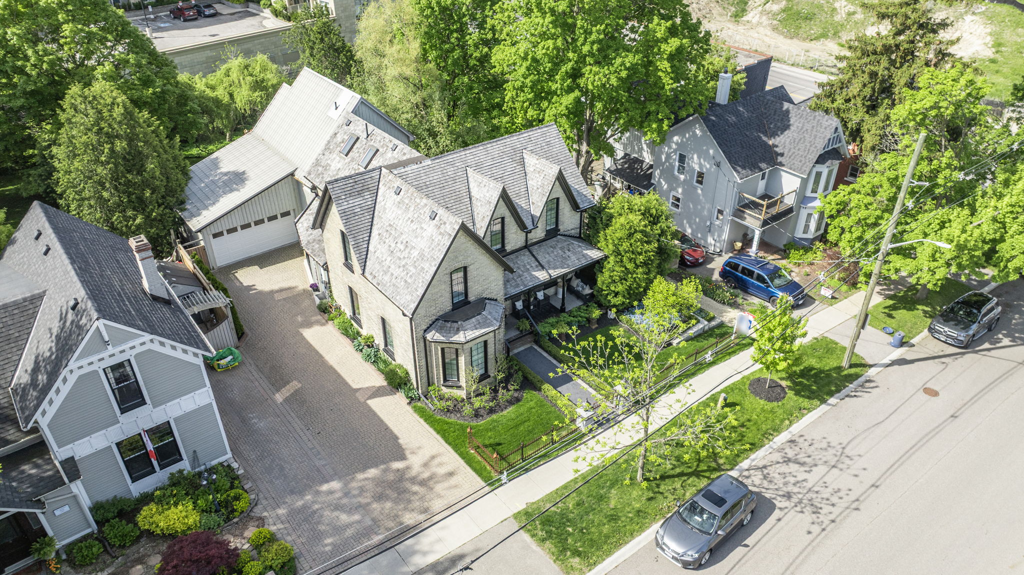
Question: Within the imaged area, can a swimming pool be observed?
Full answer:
No, there isn't any swimming pool down there.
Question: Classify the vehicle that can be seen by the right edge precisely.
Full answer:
I'd say the vehicle that can be seen by the right edge is a car.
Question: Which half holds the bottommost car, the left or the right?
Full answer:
You can find the bottommost car on the right side of the picture.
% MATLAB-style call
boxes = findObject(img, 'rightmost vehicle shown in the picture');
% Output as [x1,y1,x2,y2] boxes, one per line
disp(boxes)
[930,288,1006,348]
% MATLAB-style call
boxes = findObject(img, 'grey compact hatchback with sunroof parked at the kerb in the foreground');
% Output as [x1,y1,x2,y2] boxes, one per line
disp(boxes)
[652,473,760,567]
